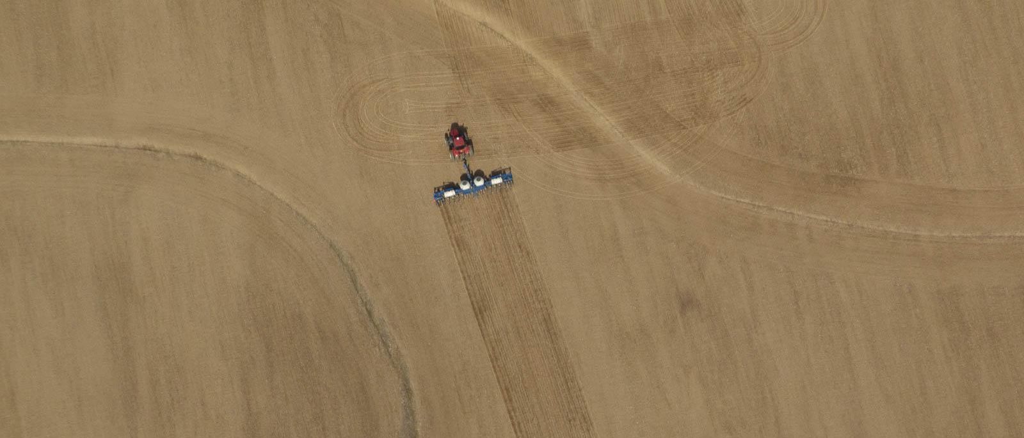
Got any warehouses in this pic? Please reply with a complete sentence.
No, the frame has no warehouse in it.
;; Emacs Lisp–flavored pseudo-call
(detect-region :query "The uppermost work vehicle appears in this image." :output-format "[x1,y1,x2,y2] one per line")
[444,123,475,163]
